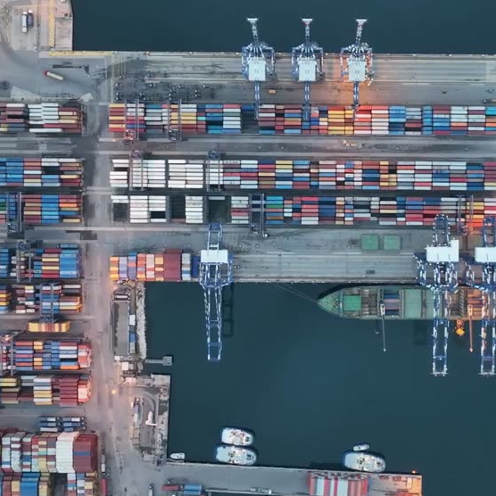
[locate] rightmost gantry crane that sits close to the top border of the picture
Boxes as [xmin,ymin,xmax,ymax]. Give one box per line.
[334,14,373,118]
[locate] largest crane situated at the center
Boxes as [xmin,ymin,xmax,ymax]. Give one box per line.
[196,222,241,361]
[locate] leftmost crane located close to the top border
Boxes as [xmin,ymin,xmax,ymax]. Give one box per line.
[241,14,280,118]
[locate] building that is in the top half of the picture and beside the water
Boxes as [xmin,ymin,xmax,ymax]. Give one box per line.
[52,17,71,50]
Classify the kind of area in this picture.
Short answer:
port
